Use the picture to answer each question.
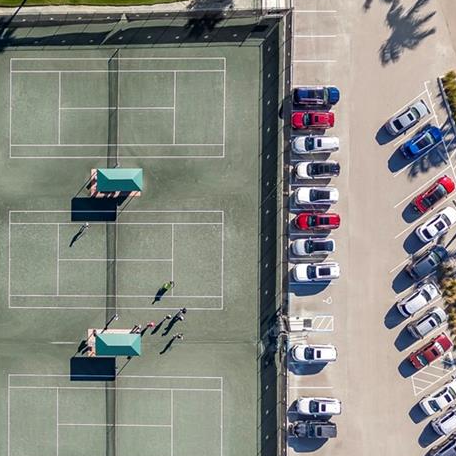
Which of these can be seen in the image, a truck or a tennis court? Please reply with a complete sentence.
The one in the frame is a tennis court.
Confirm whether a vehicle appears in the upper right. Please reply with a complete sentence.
Yes, looking in the upper right, one can make out a vehicle.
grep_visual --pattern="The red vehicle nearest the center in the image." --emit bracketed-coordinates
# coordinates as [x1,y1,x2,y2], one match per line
[295,211,340,231]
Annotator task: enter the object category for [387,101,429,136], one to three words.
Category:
car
